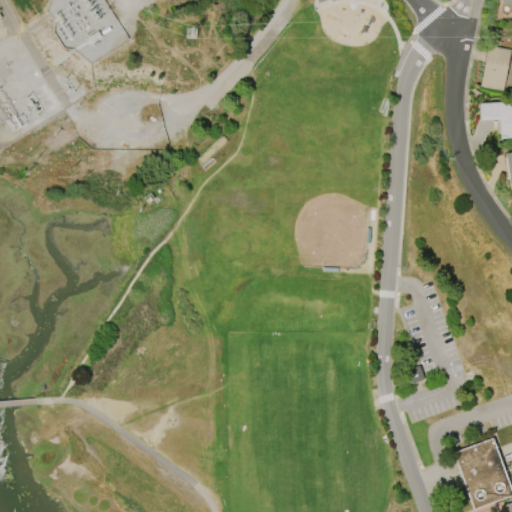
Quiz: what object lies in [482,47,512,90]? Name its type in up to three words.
house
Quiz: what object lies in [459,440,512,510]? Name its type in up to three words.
building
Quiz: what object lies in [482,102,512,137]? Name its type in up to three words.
house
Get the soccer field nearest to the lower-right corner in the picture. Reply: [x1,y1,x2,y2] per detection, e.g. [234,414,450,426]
[228,332,391,512]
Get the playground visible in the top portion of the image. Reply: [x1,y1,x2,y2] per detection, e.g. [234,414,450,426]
[320,0,386,46]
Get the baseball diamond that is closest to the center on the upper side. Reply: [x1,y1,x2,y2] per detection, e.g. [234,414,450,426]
[235,130,371,268]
